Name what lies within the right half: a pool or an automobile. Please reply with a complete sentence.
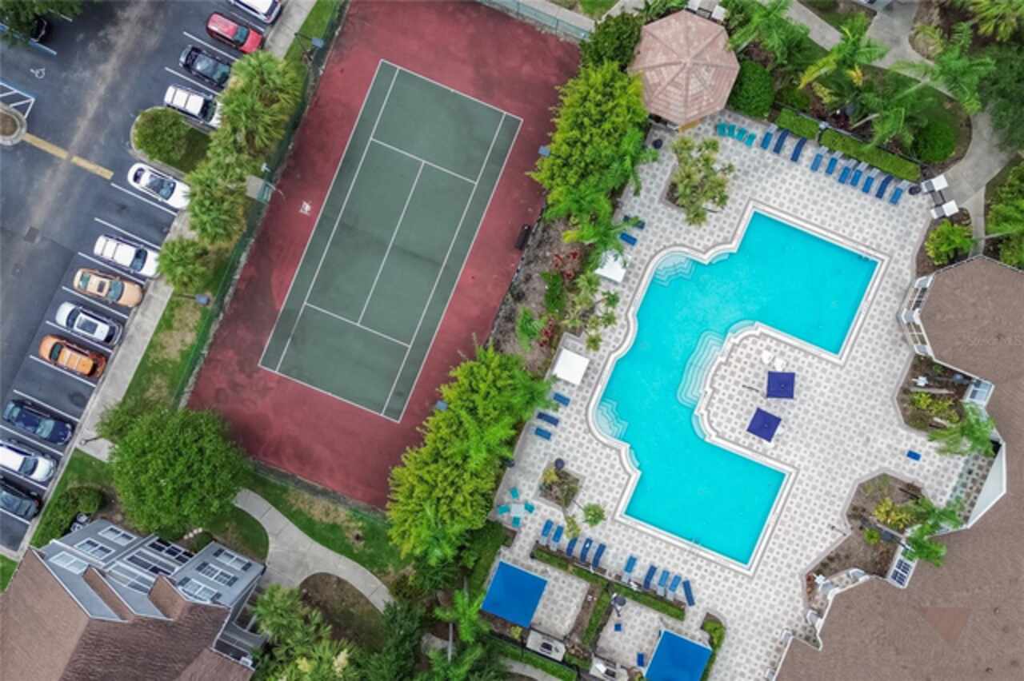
Visible within the right half is a pool.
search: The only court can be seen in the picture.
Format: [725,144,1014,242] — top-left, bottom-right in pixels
[173,0,602,524]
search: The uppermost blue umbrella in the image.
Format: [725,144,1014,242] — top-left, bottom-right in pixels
[767,370,796,399]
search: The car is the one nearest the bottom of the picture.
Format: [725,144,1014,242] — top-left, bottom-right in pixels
[0,476,41,519]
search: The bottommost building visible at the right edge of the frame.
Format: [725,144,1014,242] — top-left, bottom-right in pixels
[770,254,1024,681]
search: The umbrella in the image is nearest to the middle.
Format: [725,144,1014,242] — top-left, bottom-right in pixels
[552,348,590,386]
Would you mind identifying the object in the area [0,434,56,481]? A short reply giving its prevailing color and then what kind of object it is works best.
white car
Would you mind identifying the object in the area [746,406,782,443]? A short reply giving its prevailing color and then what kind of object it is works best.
blue umbrella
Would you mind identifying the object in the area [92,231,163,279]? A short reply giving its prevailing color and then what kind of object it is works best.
white car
